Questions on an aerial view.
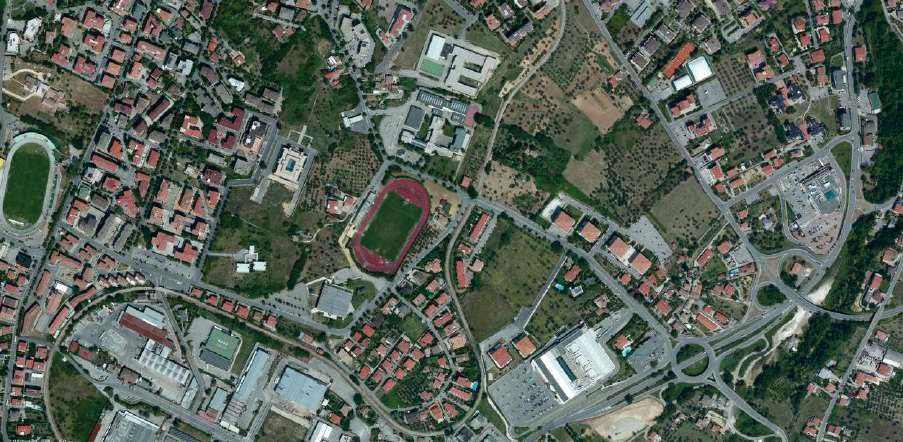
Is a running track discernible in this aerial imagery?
Yes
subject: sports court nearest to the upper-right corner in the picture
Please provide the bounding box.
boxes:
[698,79,725,105]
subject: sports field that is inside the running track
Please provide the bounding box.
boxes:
[363,192,422,262]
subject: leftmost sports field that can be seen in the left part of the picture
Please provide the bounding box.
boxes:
[4,144,50,228]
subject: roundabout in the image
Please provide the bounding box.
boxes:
[672,338,715,382]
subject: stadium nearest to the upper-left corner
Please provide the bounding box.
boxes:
[0,134,60,237]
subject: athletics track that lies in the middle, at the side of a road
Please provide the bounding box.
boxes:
[353,176,431,275]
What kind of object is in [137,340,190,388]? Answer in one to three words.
building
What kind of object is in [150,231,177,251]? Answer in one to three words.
building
